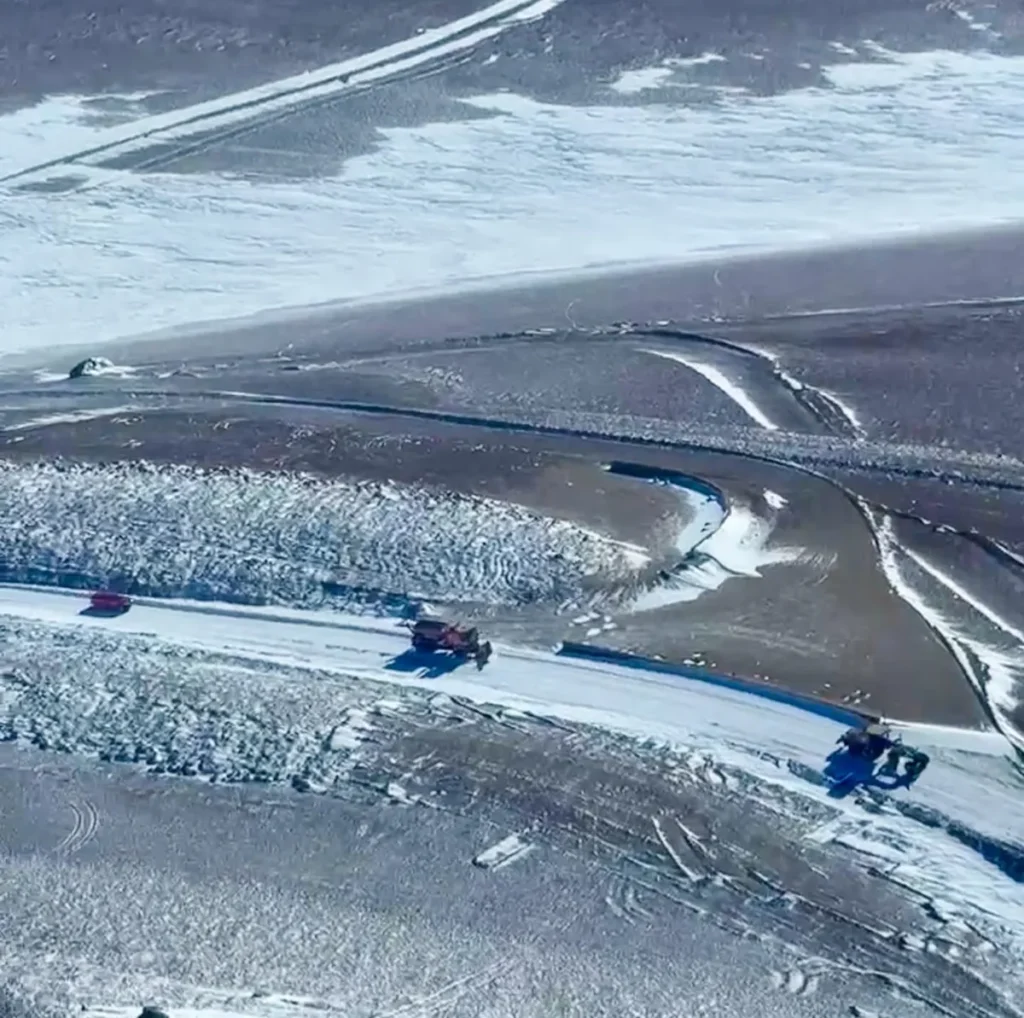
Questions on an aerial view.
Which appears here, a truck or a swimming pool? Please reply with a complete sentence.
The one in the frame is a truck.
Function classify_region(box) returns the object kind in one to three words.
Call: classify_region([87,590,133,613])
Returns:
car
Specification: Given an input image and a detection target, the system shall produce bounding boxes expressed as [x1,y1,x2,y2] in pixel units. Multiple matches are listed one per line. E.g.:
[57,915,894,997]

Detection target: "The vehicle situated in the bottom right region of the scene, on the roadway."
[843,719,933,789]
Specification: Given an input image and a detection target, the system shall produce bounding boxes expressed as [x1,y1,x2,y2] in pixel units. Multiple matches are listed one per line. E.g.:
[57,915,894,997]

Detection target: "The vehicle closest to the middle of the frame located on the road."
[408,621,491,672]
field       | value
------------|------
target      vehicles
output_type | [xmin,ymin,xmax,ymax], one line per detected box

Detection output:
[843,719,933,789]
[87,590,133,613]
[408,621,491,672]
